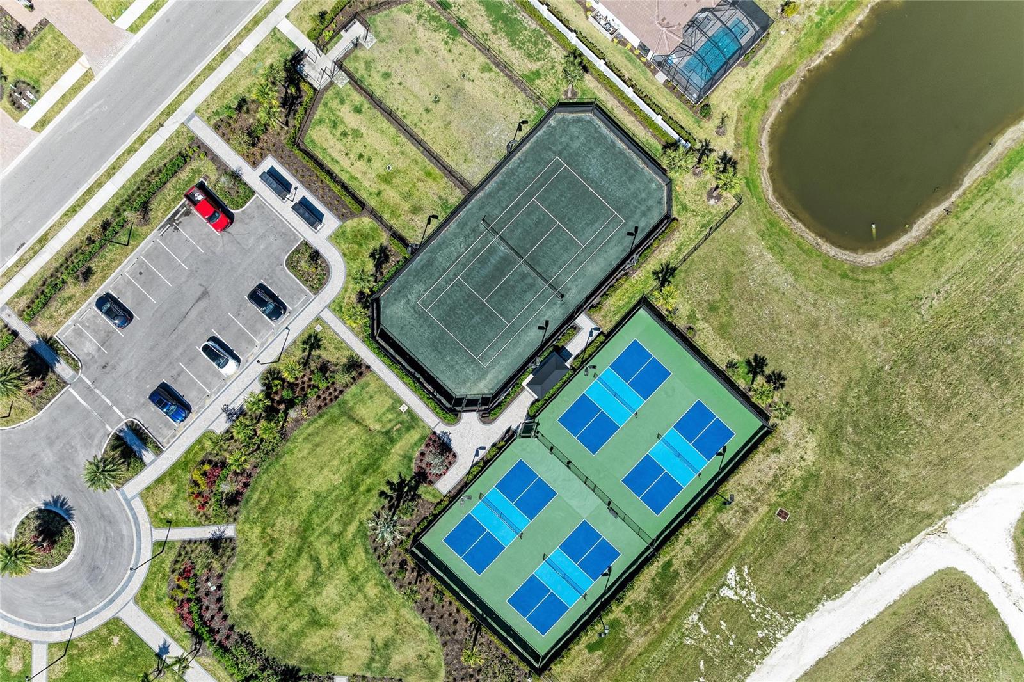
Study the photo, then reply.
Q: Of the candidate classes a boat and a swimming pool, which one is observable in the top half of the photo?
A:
swimming pool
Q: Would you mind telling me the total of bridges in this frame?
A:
none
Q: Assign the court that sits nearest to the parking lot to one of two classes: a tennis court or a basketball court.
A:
tennis court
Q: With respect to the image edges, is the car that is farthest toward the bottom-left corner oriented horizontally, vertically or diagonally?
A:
diagonally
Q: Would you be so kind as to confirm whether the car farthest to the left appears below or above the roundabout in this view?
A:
above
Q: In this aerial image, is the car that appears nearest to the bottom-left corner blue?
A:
Yes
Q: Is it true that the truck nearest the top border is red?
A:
Yes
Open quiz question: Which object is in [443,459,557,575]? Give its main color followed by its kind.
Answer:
blue sports court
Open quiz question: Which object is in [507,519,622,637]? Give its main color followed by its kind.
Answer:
blue sports court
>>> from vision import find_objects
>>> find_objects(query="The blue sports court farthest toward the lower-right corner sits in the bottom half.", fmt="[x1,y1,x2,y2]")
[621,400,736,516]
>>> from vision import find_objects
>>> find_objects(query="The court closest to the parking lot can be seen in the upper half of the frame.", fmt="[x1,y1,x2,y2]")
[374,108,668,409]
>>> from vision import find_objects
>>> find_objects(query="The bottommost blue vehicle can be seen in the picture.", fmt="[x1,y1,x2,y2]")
[148,385,187,422]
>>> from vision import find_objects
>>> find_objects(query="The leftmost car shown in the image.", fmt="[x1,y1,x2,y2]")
[93,294,130,330]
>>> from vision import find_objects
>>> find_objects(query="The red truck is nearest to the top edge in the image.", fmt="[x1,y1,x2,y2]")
[183,185,230,234]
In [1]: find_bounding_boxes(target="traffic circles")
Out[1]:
[0,450,152,643]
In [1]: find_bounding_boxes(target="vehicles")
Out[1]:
[93,294,130,330]
[199,339,236,376]
[148,385,187,422]
[248,284,285,320]
[183,185,230,234]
